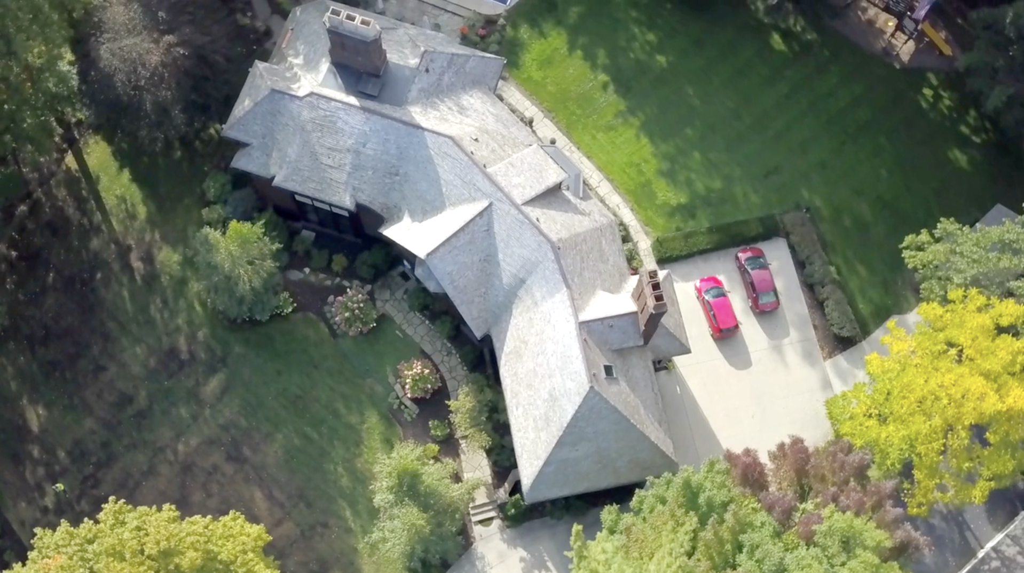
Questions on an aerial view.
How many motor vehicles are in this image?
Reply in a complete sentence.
In total, 2 motor vehicles can be seen.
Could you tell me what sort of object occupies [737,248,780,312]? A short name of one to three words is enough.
car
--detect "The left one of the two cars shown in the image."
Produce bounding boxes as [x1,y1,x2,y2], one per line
[696,276,739,337]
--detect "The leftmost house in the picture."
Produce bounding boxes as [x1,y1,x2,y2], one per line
[221,0,691,505]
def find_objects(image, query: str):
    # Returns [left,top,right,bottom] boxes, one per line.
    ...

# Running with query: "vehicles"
[737,248,780,312]
[696,276,739,337]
